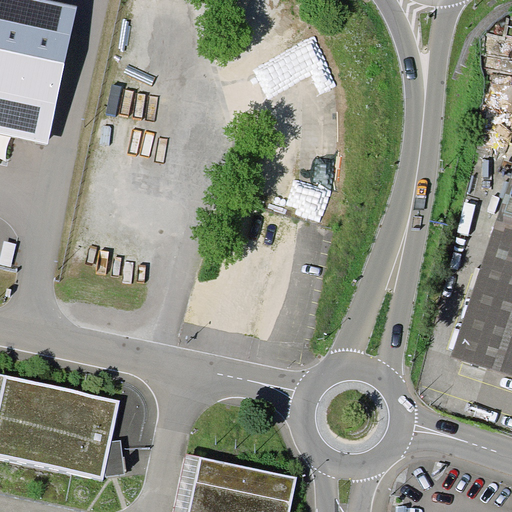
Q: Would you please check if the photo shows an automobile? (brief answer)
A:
Yes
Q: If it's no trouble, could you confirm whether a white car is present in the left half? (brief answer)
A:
No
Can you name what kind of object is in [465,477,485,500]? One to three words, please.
car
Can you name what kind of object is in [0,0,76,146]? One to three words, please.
building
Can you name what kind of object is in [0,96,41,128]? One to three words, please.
solar array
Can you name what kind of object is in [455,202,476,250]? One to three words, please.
vehicle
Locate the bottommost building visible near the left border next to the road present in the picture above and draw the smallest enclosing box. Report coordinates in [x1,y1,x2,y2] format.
[0,374,118,483]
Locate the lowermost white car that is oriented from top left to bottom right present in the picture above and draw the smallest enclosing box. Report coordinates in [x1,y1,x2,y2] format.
[412,468,434,492]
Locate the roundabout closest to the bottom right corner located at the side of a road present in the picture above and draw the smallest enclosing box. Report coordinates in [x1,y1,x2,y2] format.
[287,350,418,484]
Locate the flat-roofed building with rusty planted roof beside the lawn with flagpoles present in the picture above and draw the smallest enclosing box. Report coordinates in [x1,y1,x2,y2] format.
[190,458,296,512]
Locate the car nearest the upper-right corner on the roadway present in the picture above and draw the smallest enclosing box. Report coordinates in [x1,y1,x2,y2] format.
[404,56,417,79]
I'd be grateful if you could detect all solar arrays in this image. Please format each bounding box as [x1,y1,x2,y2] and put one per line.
[0,0,62,30]
[0,96,41,128]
